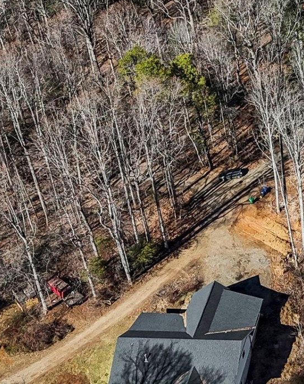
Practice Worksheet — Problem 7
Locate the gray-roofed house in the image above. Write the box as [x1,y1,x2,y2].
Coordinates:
[105,280,263,384]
